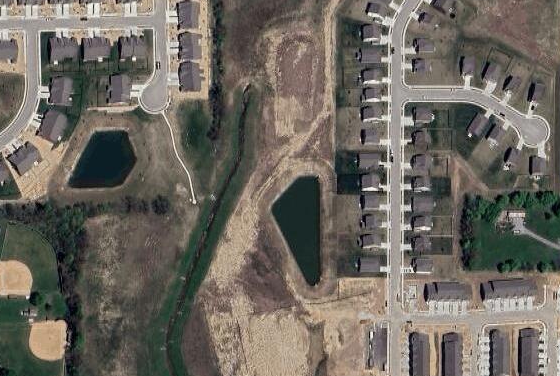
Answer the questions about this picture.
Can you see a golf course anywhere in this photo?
No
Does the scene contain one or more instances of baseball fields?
Yes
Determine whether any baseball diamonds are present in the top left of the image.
No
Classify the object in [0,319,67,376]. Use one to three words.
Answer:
baseball field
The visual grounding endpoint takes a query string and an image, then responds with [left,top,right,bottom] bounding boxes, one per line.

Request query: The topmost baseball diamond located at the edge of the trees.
[0,224,62,297]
